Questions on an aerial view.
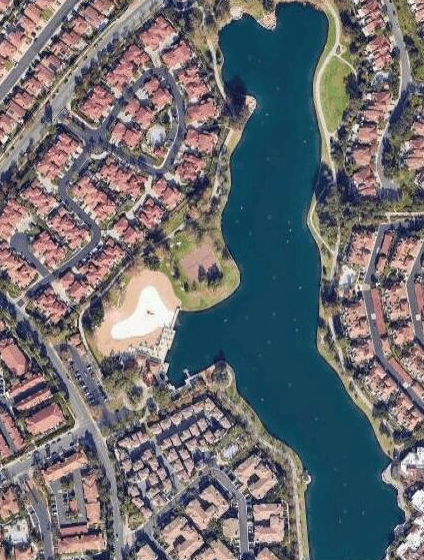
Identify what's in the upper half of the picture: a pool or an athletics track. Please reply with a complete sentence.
The one visible in the upper half of the picture is a pool.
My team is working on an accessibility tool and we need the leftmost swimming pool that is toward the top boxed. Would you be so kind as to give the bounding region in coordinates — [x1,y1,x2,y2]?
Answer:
[147,124,166,145]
